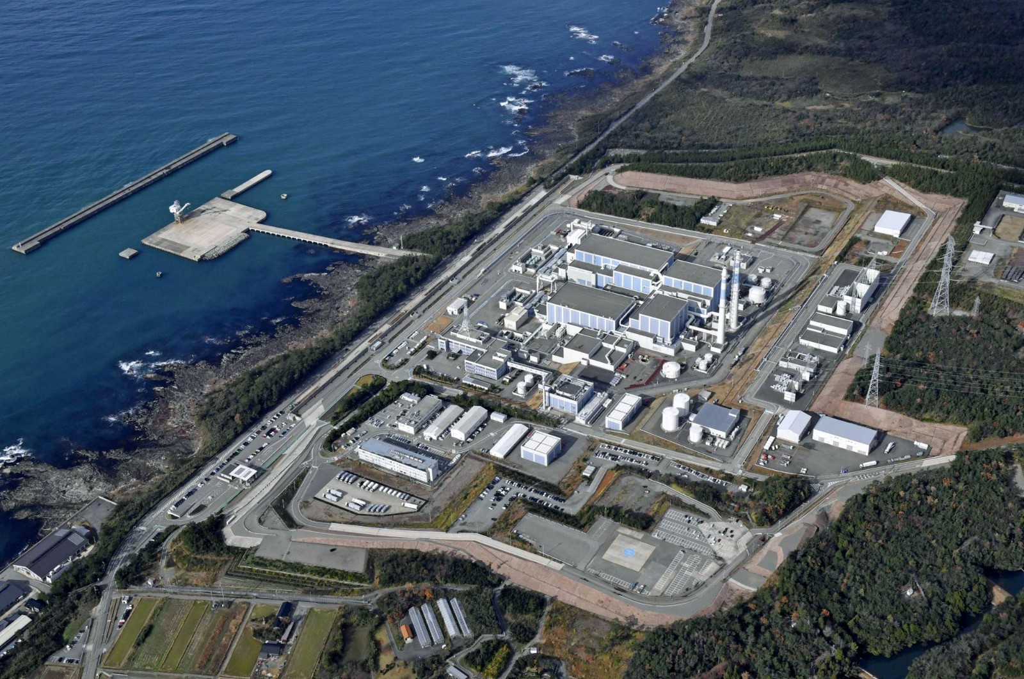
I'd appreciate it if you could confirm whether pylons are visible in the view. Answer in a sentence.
Yes, this view includes a pylon.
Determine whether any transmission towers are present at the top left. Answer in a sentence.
No, looking at the top left, there is no transmission tower.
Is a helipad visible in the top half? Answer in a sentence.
No, looking in the top half, there is no helipad.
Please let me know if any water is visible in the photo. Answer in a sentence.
Yes, the picture does contain water.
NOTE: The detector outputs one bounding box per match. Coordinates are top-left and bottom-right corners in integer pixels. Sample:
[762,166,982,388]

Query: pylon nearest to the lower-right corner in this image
[865,354,879,408]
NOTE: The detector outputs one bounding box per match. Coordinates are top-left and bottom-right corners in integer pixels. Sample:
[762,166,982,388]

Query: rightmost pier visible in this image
[235,170,272,200]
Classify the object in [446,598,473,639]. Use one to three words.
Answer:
greenhouse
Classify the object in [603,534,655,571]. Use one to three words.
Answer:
helipad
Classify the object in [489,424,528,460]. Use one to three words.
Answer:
building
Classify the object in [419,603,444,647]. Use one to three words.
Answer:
greenhouse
